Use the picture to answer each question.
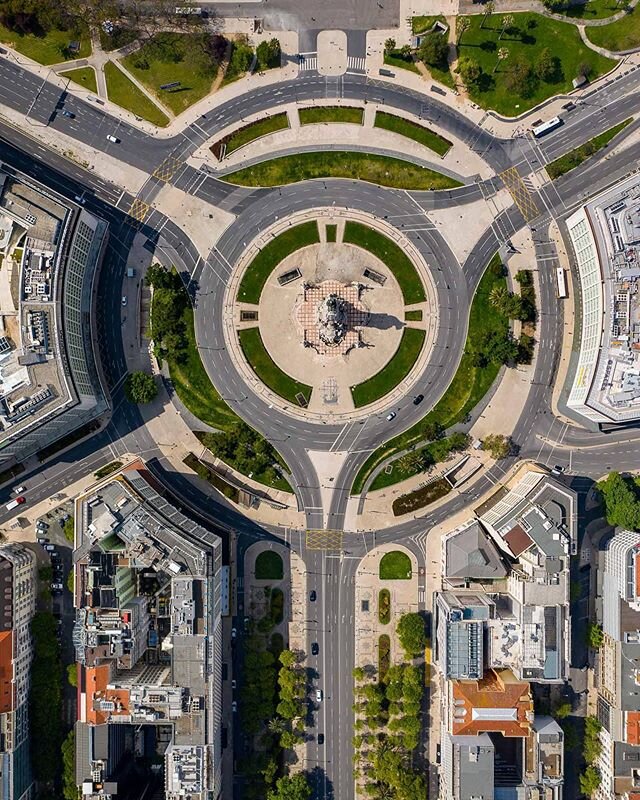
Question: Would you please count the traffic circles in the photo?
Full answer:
There is 1 traffic circle in the image.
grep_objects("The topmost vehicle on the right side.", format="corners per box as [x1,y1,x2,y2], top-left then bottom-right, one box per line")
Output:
[534,115,563,134]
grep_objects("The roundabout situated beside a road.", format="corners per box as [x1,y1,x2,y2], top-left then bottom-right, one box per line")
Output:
[194,179,468,452]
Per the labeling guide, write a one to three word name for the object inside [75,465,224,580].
building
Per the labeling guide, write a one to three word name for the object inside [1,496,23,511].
vehicle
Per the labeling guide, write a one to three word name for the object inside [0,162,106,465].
building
